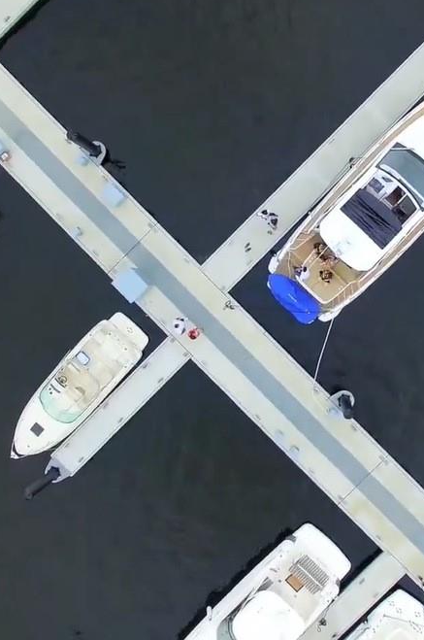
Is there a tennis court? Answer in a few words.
No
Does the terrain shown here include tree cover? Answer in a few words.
No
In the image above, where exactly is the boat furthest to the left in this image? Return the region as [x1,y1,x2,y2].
[10,314,150,458]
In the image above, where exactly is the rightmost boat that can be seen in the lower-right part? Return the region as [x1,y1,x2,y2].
[343,589,424,640]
